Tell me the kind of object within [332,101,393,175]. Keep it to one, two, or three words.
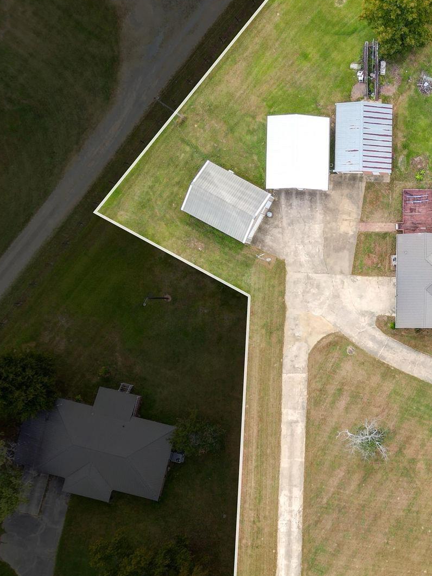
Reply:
building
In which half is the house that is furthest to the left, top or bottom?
bottom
